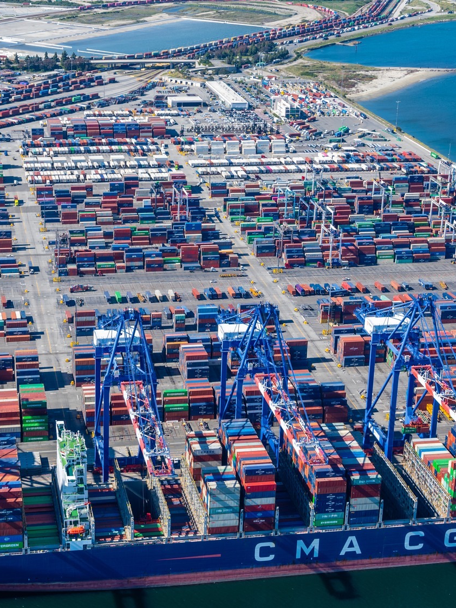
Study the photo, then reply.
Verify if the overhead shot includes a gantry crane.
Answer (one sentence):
Yes, there's a gantry crane here.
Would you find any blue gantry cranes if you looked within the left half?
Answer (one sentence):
Yes, a blue gantry crane is visible within the left half.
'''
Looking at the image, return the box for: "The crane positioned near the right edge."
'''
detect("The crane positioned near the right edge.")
[353,292,456,465]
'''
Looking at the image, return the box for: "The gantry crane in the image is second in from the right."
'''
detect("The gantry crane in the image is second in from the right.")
[213,299,337,472]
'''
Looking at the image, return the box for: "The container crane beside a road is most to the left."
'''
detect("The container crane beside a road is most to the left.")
[87,304,179,534]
